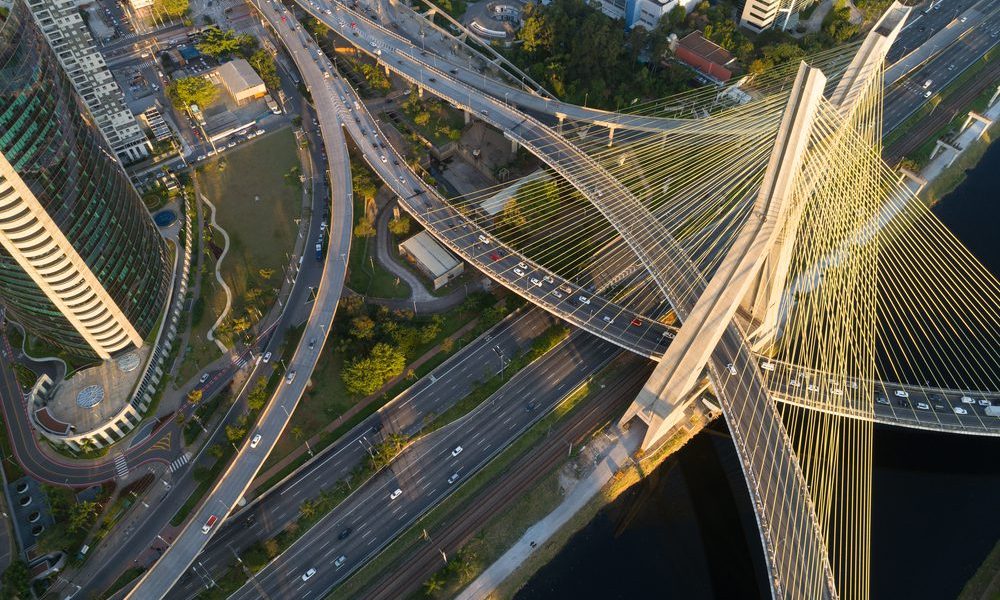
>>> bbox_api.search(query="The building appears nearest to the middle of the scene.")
[397,228,465,286]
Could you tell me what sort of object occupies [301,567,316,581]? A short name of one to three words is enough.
car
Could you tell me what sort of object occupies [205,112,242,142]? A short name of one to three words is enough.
shed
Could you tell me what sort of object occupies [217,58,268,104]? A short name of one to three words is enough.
building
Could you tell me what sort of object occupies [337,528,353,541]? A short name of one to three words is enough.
vehicle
